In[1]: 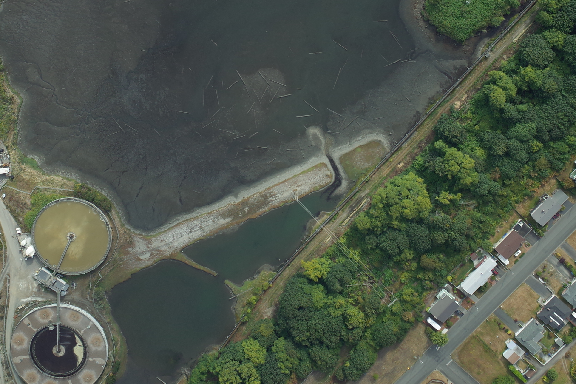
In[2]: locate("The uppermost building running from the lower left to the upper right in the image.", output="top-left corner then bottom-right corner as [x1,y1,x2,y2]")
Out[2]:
[531,189,568,226]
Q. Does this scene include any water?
Yes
